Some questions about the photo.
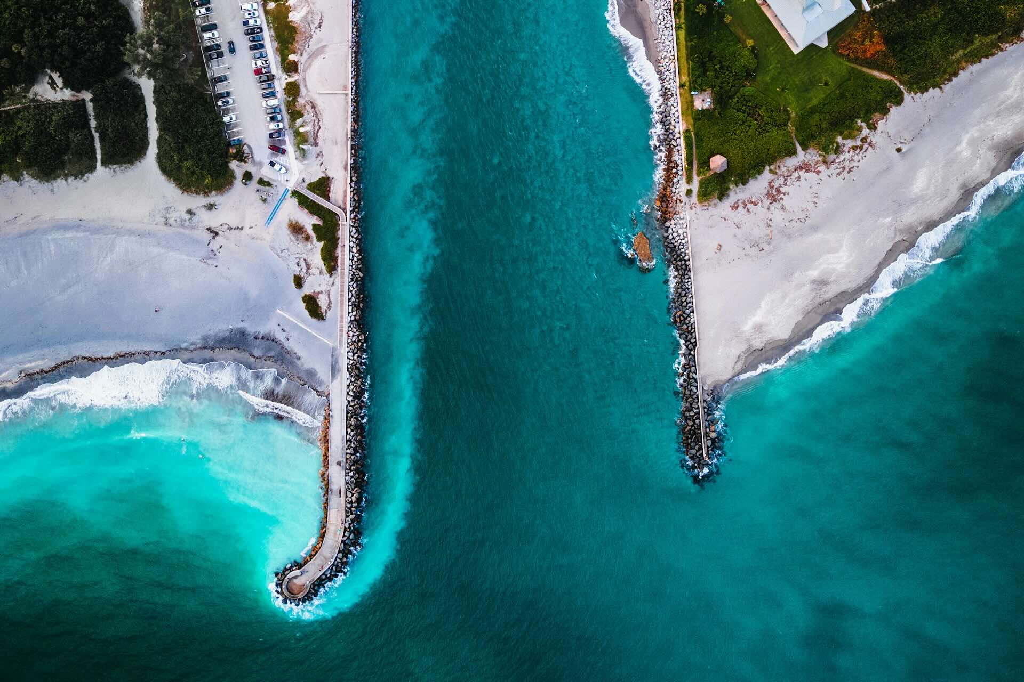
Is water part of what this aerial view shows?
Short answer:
Yes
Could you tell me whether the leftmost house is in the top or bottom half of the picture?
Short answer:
top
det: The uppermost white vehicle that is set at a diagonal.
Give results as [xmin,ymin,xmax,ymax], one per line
[267,158,288,175]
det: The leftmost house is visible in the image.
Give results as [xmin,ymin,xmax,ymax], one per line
[752,0,859,55]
